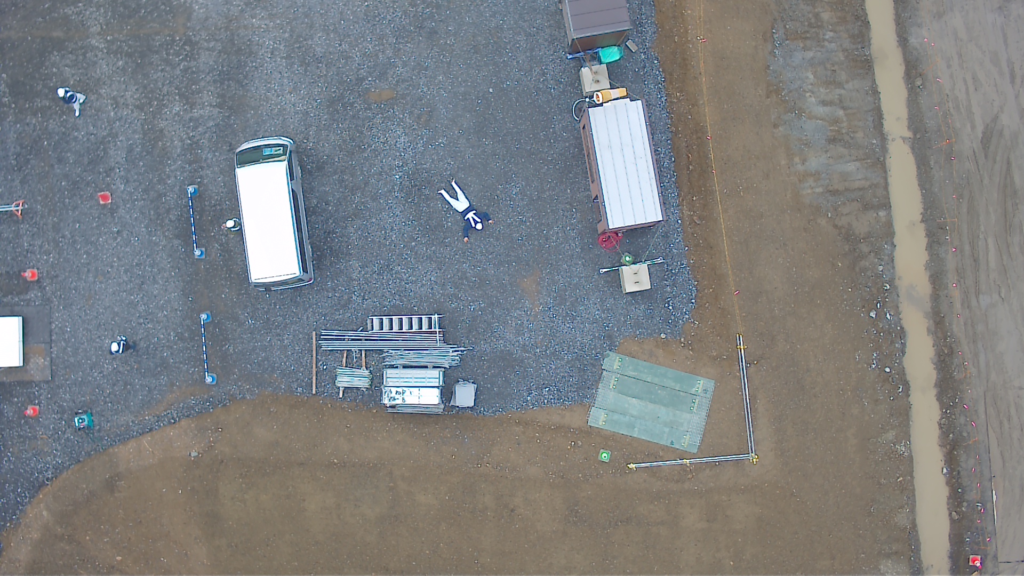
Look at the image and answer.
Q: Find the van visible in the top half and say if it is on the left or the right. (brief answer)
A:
left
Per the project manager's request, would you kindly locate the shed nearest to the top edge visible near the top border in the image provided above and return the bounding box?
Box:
[561,0,632,50]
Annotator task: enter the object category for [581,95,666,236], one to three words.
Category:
building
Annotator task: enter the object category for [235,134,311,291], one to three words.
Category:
van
